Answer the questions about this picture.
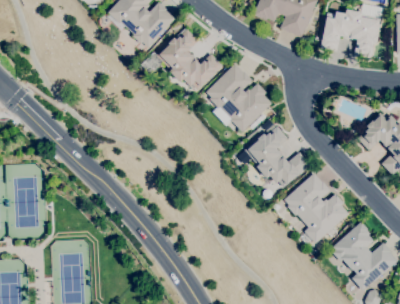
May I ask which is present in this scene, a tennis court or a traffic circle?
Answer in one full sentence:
The image shows a tennis court.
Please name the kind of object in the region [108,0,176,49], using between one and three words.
house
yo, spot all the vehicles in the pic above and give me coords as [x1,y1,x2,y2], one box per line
[170,274,180,285]
[73,150,83,160]
[204,17,214,26]
[221,29,233,40]
[138,228,148,239]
